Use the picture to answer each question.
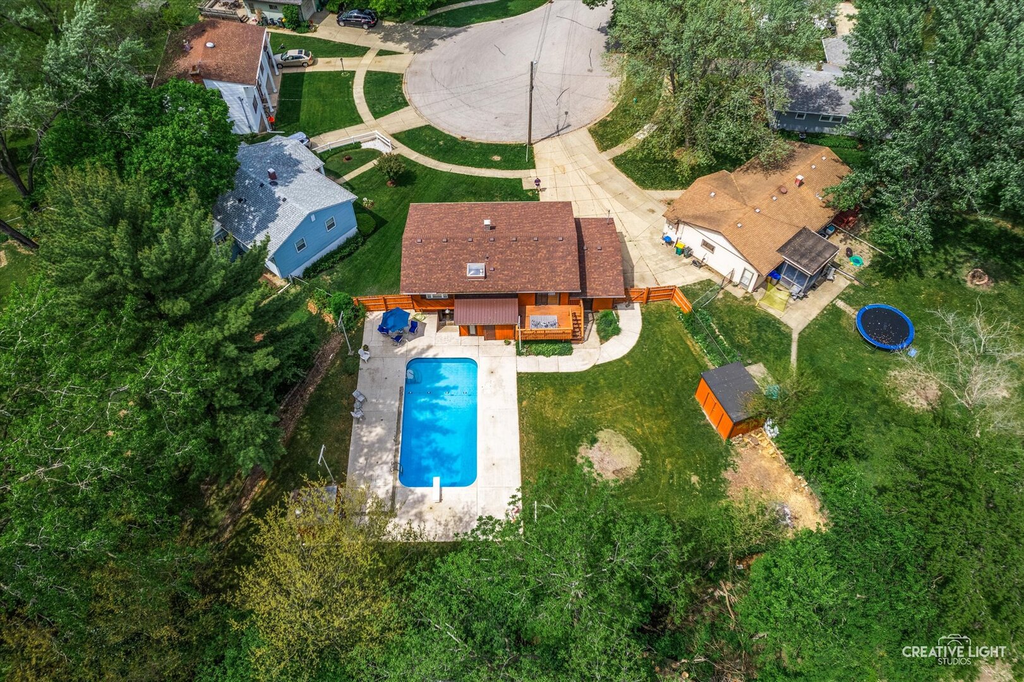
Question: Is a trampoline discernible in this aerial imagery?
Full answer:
Yes, there's a trampoline down there.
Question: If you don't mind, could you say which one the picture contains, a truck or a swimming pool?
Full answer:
Of the two, only a swimming pool appears.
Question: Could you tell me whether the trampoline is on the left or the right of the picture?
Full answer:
The trampoline sits on the right side.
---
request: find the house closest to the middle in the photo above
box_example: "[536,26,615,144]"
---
[400,202,626,337]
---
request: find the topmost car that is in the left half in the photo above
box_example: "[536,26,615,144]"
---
[334,7,379,31]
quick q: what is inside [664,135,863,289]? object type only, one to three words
house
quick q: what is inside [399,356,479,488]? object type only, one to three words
swimming pool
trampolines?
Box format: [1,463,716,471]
[855,307,913,355]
